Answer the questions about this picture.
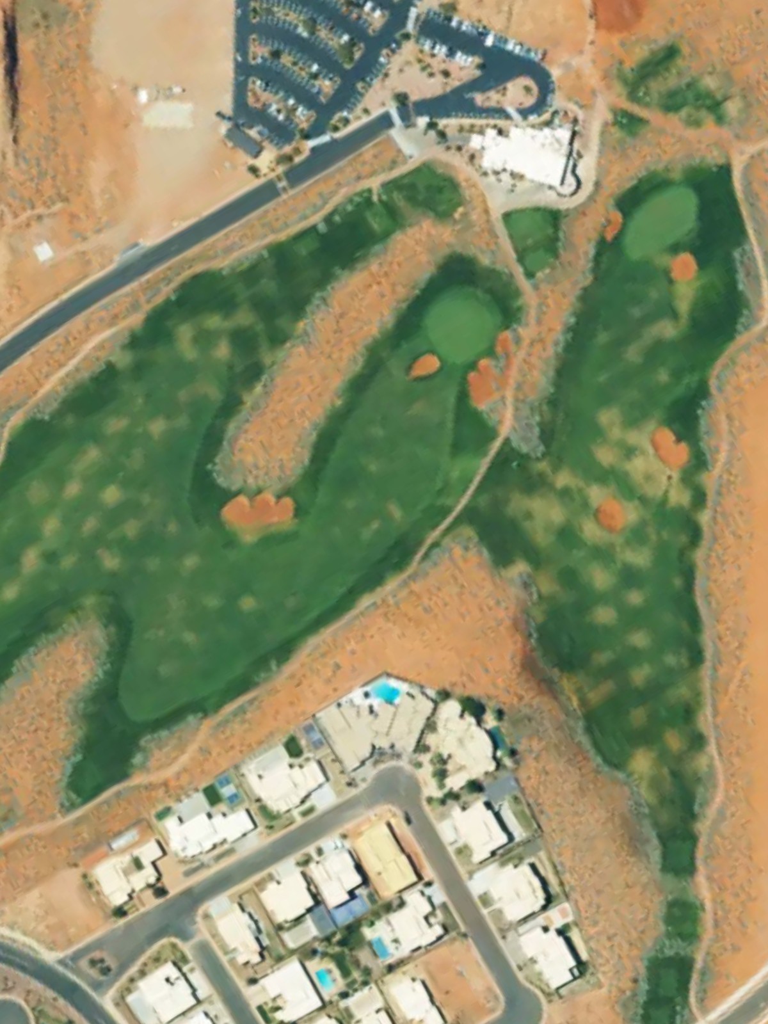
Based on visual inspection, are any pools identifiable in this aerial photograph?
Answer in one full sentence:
Yes, there's a pool down there.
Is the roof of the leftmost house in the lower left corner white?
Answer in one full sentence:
Yes, the roof of the leftmost house in the lower left corner is white.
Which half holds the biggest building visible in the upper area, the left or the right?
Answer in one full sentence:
The biggest building visible in the upper area appears in the right half of the scene.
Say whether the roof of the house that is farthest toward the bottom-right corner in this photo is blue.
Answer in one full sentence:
No, the color of the roof of the house that is farthest toward the bottom-right corner is white.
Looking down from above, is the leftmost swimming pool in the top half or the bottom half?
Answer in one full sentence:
The bottom half of the photo is where the leftmost swimming pool is.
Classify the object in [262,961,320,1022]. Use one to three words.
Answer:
house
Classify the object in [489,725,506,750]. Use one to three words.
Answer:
swimming pool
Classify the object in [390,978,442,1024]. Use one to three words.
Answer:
house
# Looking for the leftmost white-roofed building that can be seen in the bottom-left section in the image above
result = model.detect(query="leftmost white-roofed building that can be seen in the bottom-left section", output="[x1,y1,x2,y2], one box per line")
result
[95,840,165,902]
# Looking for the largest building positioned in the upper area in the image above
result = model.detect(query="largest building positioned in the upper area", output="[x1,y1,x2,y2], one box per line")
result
[470,126,571,185]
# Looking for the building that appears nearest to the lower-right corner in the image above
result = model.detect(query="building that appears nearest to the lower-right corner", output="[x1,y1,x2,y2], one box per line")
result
[518,927,576,988]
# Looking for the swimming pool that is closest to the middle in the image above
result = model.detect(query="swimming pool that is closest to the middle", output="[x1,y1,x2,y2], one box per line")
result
[372,681,401,703]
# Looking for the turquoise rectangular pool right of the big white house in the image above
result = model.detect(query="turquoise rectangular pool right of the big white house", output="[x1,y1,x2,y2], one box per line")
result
[314,967,336,992]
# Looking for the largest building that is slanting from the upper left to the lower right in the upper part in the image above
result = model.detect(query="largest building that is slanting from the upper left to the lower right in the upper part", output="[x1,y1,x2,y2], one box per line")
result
[226,124,261,157]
